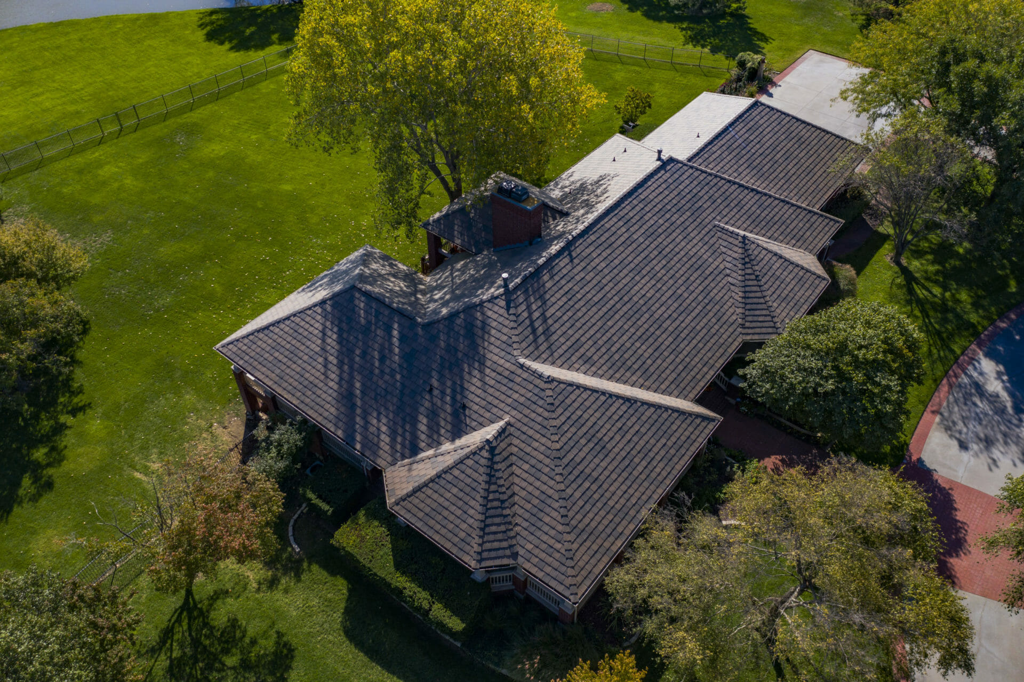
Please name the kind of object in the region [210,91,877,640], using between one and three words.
house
